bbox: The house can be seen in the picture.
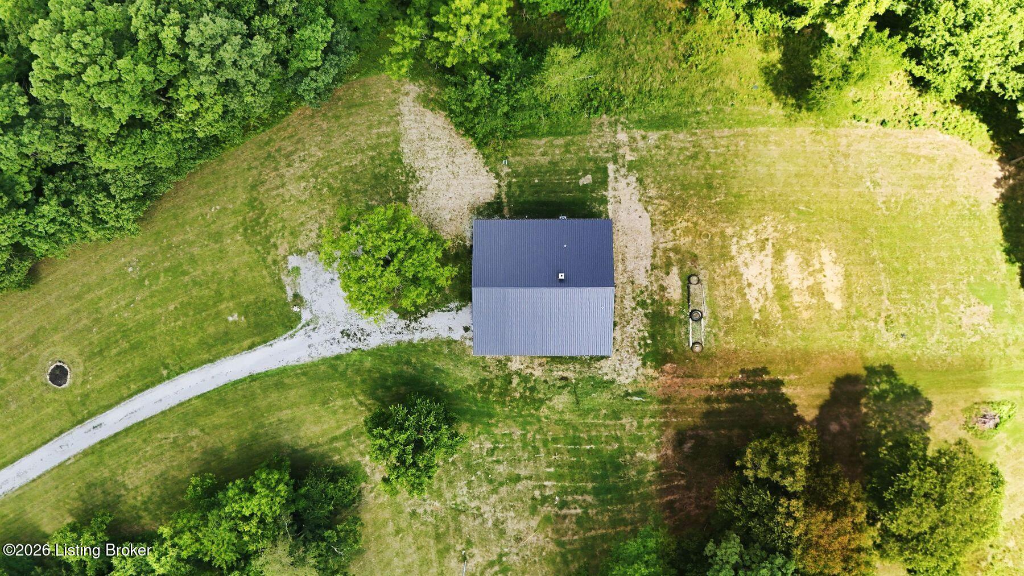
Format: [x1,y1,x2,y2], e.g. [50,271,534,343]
[471,219,616,357]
